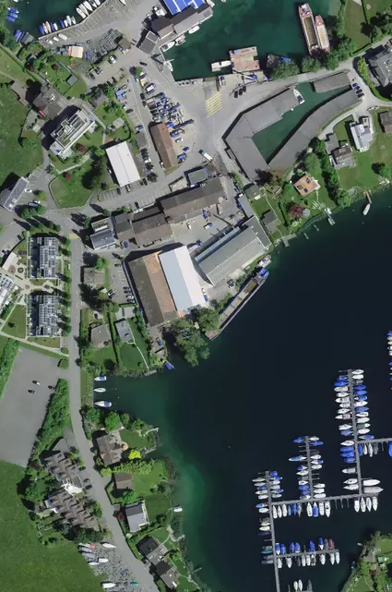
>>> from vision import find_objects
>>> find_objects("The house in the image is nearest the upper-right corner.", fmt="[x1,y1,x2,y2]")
[368,48,392,87]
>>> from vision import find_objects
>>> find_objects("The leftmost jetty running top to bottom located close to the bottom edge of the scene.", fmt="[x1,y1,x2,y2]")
[258,471,280,592]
